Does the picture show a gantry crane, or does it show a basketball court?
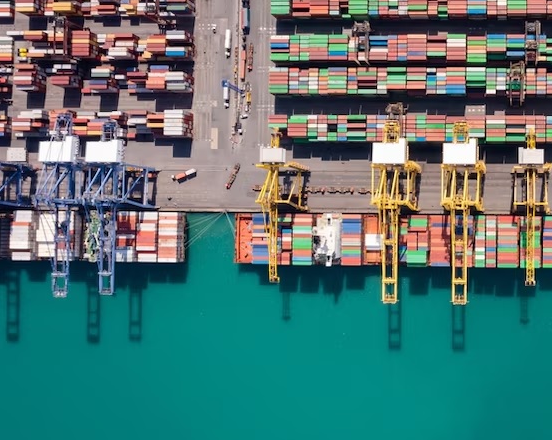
gantry crane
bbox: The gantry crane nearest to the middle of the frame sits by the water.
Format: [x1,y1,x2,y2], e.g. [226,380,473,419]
[255,127,314,283]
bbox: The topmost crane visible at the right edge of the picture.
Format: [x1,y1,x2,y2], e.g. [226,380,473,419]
[519,21,540,69]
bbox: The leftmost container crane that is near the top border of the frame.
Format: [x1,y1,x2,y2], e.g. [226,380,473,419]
[50,14,89,63]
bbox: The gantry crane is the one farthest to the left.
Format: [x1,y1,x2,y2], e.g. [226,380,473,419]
[0,158,39,206]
